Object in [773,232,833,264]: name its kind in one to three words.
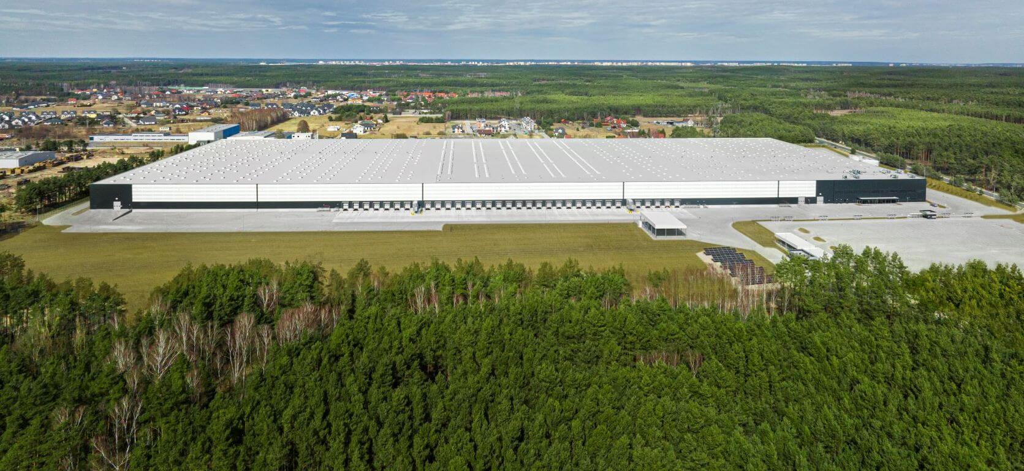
building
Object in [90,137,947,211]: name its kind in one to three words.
building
